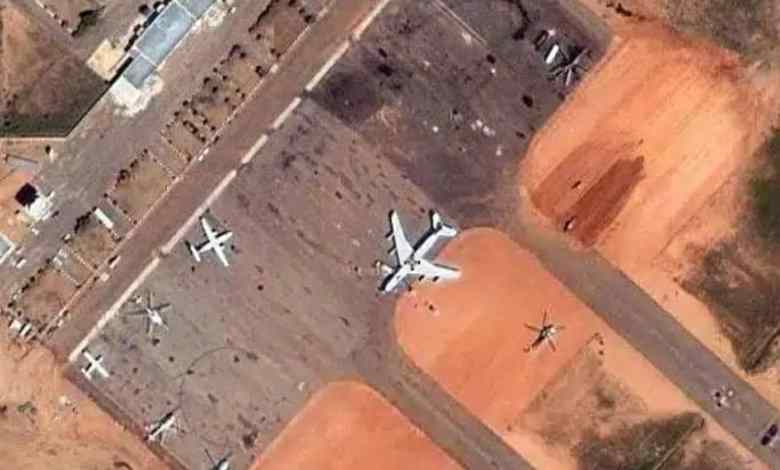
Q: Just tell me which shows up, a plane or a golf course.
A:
plane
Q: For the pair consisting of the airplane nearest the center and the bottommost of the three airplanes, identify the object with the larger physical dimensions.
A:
the airplane nearest the center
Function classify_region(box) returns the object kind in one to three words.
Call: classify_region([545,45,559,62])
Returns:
vehicle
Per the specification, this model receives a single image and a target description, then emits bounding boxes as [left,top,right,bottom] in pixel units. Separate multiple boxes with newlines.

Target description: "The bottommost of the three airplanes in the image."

[82,350,109,378]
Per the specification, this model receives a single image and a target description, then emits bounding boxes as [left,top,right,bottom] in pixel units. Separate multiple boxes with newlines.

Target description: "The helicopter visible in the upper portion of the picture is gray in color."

[551,47,589,85]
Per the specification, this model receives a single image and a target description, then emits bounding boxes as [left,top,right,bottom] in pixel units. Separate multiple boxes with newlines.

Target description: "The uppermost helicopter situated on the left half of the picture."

[134,298,174,337]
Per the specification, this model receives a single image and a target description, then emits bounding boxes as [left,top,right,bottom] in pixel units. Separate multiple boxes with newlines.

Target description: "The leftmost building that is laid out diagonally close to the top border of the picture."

[124,0,211,88]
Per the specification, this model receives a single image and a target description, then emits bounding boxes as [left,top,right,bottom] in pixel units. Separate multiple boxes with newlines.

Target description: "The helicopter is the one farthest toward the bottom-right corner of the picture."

[530,314,569,352]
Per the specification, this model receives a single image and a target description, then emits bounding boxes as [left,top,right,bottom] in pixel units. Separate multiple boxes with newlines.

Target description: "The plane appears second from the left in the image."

[192,219,232,266]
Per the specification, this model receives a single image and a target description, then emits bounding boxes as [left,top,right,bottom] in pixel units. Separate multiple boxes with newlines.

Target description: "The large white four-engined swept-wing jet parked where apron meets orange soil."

[385,211,465,292]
